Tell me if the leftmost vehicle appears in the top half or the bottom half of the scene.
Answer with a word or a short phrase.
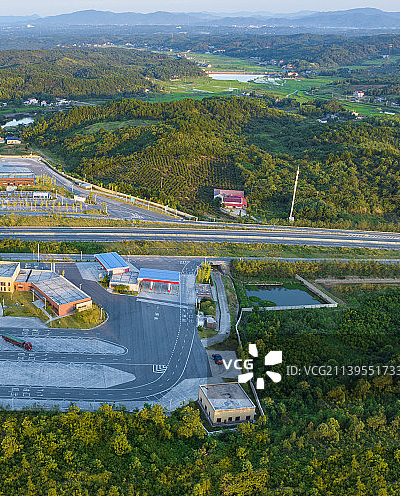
bottom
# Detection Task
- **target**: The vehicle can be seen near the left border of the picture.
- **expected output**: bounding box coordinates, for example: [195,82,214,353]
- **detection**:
[0,331,34,351]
